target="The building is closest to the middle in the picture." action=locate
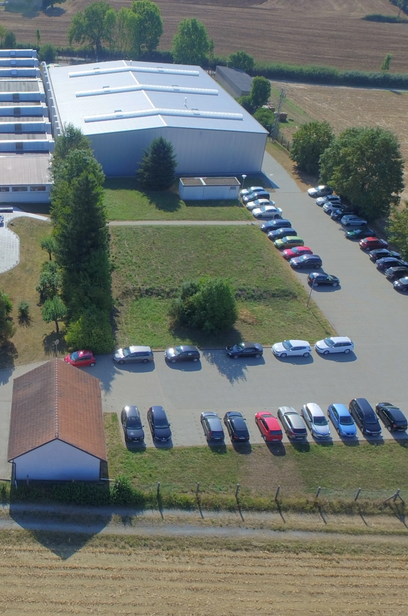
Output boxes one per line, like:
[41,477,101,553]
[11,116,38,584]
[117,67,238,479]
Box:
[179,176,242,200]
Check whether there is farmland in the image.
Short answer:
Yes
